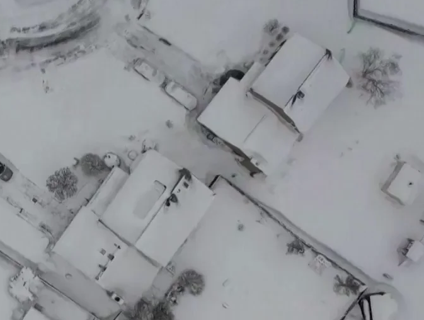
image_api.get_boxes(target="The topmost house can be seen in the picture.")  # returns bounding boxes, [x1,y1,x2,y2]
[195,33,351,176]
